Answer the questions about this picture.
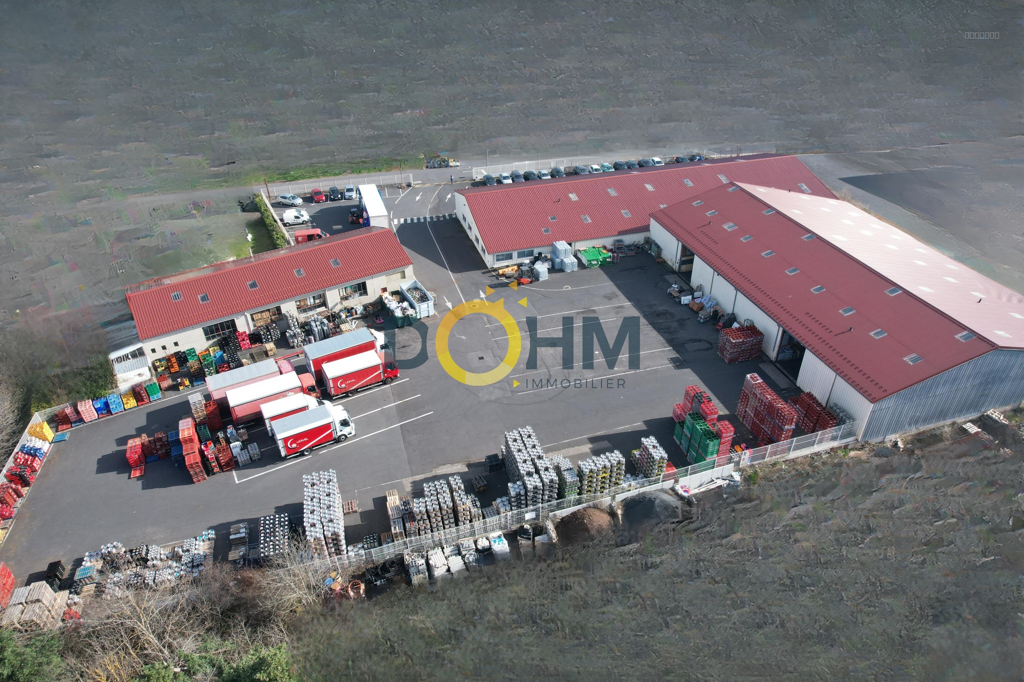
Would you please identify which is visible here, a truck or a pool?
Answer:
truck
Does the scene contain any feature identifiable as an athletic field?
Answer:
No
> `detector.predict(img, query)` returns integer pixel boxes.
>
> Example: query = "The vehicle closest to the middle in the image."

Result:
[516,266,542,288]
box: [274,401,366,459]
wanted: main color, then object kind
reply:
white truck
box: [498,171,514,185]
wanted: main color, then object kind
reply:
white car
